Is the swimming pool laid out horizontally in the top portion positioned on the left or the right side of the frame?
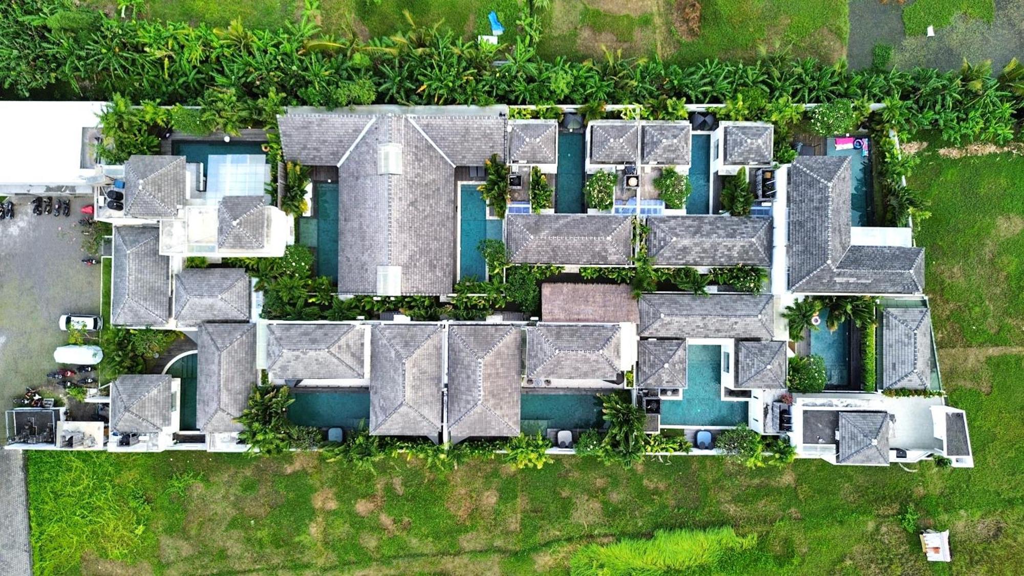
left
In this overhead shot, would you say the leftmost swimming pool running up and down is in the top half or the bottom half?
bottom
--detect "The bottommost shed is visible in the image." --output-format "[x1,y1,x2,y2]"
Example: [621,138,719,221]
[916,527,949,561]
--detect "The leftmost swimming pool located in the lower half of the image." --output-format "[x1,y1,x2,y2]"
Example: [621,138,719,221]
[165,350,197,431]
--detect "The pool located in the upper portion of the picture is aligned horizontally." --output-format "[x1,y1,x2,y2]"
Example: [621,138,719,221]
[173,141,268,165]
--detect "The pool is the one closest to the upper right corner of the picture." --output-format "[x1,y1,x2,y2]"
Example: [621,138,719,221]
[828,137,871,227]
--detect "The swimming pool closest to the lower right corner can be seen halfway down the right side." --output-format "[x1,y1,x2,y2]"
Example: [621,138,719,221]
[811,308,849,385]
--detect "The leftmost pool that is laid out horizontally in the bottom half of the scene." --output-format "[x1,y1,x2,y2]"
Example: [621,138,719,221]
[288,393,370,435]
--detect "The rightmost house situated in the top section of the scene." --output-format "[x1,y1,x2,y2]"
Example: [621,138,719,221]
[789,156,926,295]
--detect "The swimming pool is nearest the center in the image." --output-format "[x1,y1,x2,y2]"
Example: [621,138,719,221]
[457,181,505,284]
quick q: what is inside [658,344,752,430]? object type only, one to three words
swimming pool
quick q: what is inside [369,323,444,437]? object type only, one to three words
house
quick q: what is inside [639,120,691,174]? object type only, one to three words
building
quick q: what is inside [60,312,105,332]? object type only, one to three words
car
